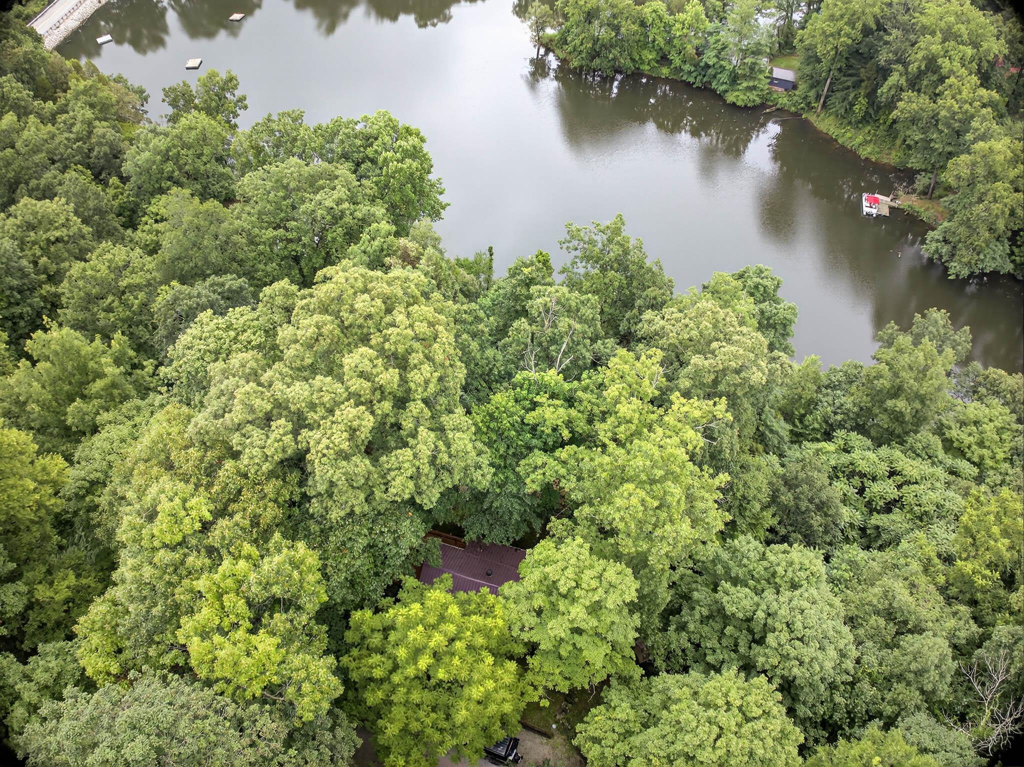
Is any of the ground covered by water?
Yes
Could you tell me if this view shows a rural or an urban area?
rural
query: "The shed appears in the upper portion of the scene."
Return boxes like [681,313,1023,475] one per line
[768,70,796,87]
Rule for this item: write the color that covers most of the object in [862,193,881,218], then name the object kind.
white boat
